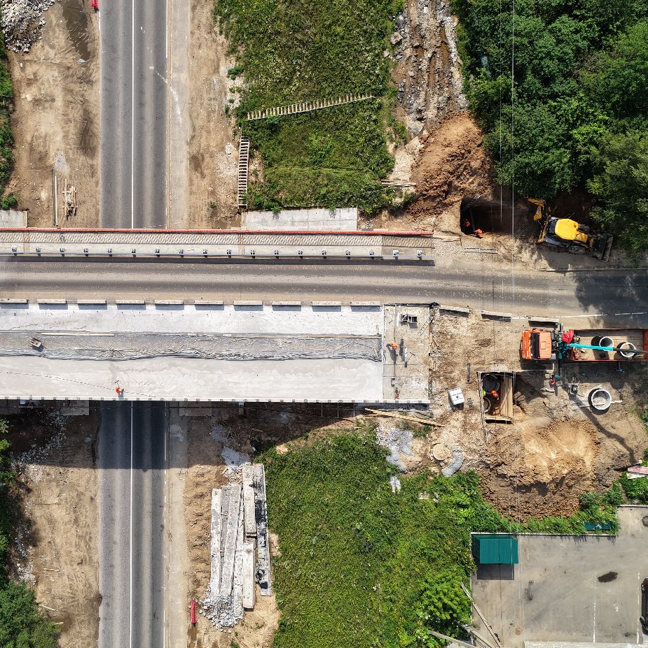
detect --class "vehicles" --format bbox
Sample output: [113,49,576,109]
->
[520,319,648,381]
[514,195,597,260]
[639,577,648,635]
